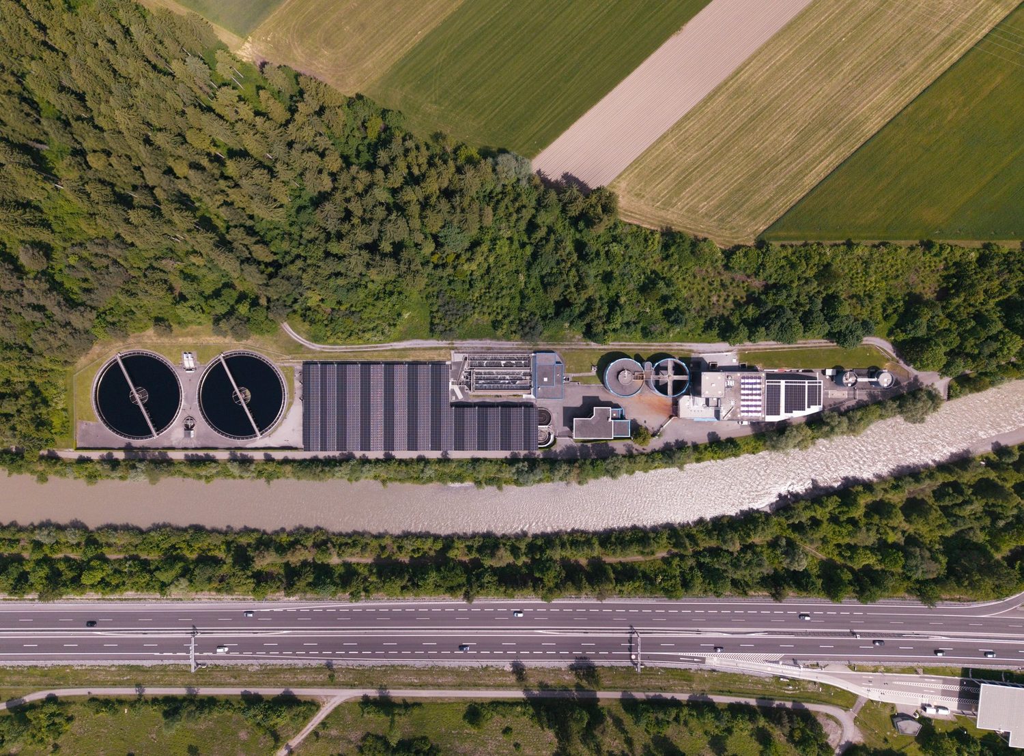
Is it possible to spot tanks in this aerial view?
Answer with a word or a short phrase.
Yes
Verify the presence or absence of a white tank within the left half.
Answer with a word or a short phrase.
No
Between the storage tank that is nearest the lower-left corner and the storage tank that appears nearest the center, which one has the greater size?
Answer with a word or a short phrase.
the storage tank that is nearest the lower-left corner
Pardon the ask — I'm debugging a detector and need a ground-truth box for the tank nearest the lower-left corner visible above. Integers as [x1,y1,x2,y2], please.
[93,348,186,441]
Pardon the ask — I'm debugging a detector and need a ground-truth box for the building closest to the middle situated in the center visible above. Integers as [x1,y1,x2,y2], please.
[532,353,563,398]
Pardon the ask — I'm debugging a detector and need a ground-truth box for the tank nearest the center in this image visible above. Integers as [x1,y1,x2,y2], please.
[603,358,645,397]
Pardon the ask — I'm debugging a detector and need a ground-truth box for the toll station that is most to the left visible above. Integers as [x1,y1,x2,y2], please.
[825,672,943,695]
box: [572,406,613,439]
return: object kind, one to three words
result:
building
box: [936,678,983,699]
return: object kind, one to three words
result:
toll station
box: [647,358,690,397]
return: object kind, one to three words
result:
storage tank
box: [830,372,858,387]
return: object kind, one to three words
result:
silo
